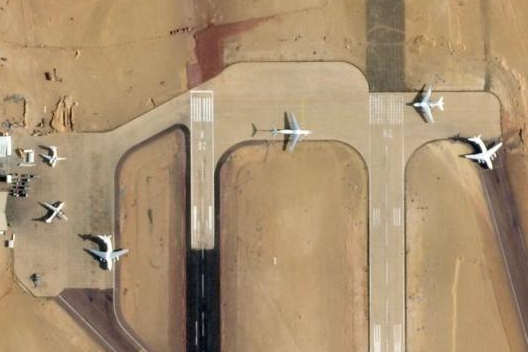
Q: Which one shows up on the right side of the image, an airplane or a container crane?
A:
airplane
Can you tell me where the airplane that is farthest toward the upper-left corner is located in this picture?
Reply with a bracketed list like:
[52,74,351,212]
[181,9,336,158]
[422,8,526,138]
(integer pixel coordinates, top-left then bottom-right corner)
[41,147,66,167]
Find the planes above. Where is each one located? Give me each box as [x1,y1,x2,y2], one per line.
[413,85,444,124]
[464,134,501,170]
[89,236,129,271]
[274,112,311,152]
[45,200,67,225]
[41,147,66,167]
